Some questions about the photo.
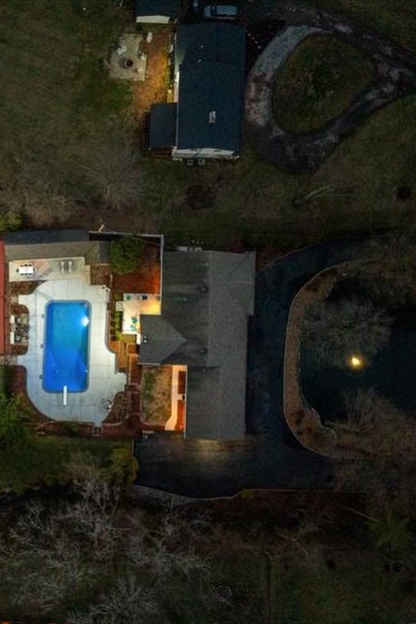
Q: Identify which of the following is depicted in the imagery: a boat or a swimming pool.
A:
swimming pool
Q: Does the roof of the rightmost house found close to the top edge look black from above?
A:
Yes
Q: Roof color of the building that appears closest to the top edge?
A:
black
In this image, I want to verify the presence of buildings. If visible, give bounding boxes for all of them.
[173,21,245,158]
[135,251,256,439]
[4,229,96,263]
[135,0,179,25]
